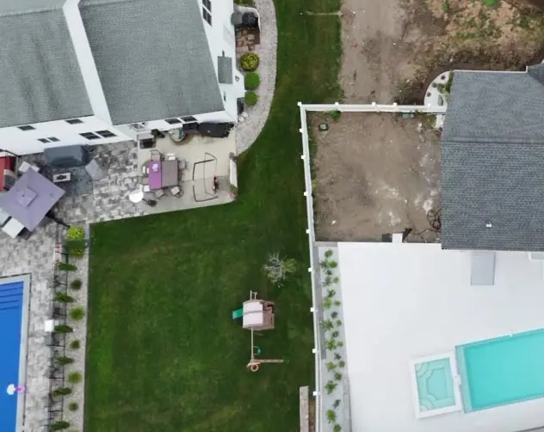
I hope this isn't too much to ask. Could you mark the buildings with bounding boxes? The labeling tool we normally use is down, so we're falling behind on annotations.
[440,61,544,256]
[0,0,244,156]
